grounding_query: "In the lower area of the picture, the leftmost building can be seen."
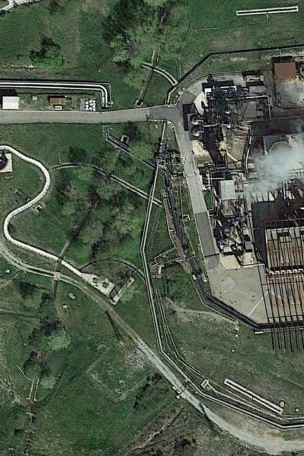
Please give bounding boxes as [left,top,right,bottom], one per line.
[84,274,115,297]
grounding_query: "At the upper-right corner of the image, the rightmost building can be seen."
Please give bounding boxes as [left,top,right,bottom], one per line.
[275,62,297,81]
